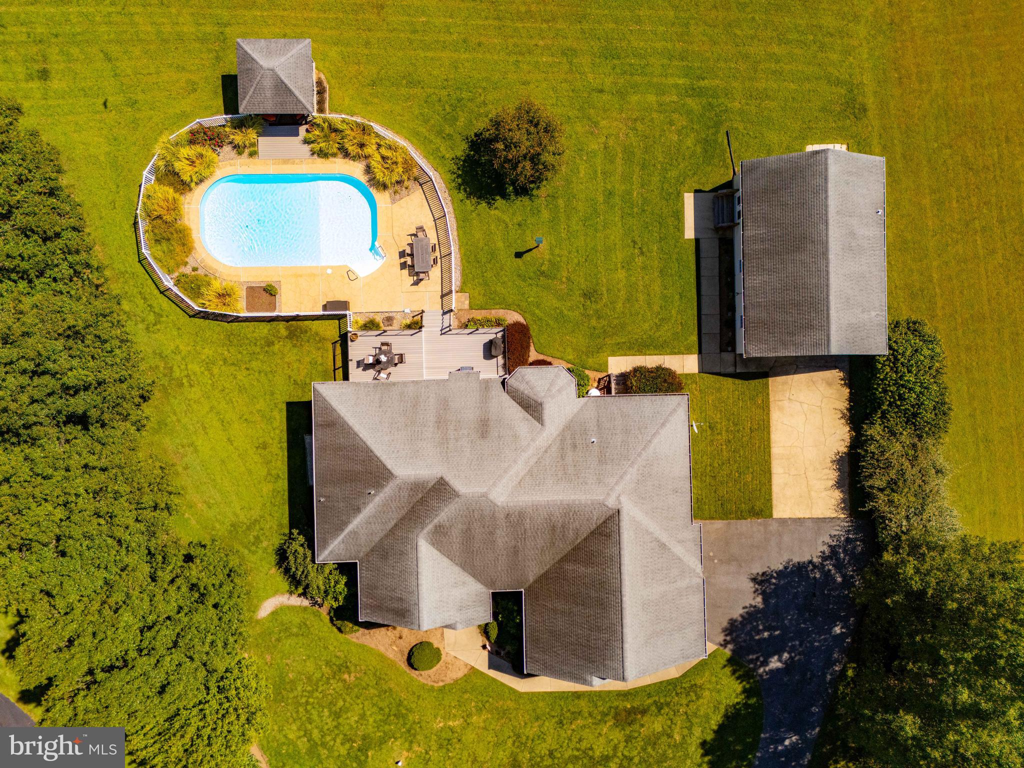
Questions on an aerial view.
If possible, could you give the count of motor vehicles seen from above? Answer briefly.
none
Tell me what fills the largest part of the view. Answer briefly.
grass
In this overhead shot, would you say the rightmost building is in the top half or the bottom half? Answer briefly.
top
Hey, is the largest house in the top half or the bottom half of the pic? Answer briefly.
bottom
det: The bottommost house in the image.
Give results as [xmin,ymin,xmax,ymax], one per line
[310,364,709,687]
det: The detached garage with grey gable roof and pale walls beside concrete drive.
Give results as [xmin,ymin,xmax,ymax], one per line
[732,149,890,357]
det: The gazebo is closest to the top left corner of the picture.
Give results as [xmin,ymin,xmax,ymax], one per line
[235,37,320,127]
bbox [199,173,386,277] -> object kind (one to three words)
swimming pool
